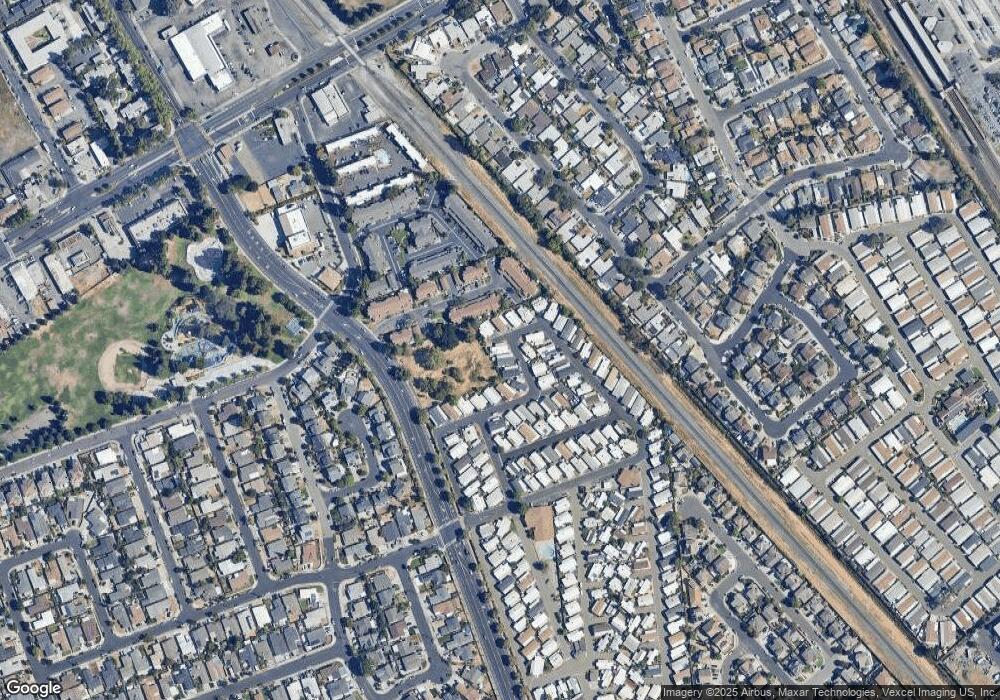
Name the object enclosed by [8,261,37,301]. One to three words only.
building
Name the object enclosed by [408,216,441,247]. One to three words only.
building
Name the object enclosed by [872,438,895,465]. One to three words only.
house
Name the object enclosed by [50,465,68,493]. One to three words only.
house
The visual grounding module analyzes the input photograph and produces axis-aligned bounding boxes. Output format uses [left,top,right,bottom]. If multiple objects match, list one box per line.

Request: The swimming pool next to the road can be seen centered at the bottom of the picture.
[536,541,556,563]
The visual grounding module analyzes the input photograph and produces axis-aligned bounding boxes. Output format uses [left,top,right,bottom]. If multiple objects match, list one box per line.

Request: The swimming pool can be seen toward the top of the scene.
[374,149,390,166]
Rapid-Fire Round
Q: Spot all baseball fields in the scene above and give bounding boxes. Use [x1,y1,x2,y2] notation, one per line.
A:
[98,339,149,392]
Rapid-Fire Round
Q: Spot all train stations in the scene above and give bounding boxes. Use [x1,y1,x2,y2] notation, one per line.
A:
[882,0,963,95]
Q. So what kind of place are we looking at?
residential area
